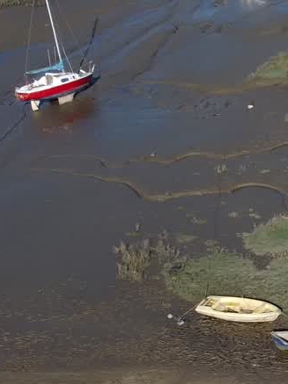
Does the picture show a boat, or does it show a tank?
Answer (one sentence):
There is a boat in the scene.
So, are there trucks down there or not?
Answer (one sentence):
No, the frame has no truck in it.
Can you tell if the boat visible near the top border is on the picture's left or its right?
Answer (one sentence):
It is on the left.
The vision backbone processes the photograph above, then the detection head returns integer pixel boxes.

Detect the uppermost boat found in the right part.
[197,295,280,321]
